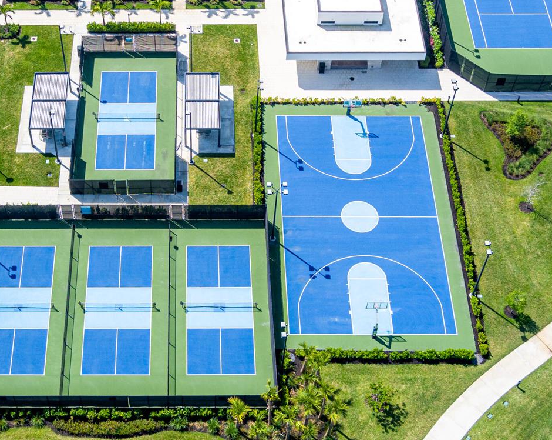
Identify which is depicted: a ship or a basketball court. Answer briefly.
basketball court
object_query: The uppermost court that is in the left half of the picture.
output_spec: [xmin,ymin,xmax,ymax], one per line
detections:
[73,51,176,194]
